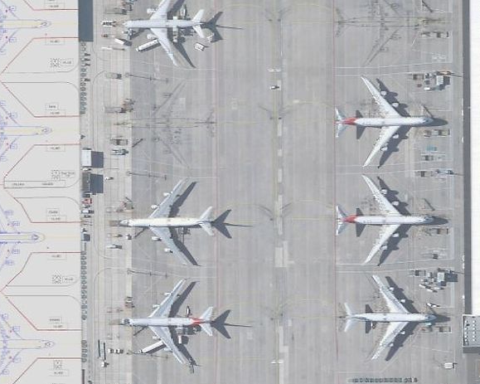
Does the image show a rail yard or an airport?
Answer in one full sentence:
The picture captures an airport.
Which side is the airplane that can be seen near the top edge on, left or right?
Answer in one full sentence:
The airplane that can be seen near the top edge appears in the left half of the scene.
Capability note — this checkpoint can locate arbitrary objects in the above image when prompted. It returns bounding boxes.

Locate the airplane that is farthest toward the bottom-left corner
[123,280,216,367]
